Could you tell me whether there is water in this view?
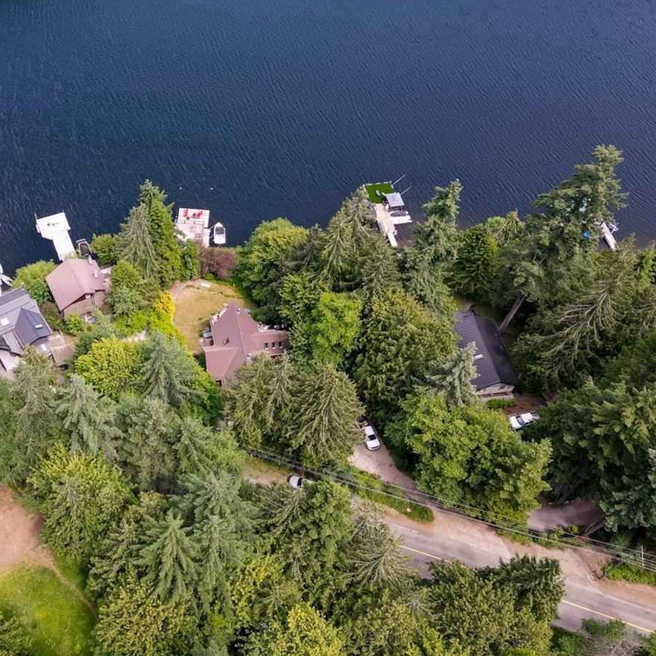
Yes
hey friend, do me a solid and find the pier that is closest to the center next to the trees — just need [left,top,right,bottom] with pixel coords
[364,177,410,246]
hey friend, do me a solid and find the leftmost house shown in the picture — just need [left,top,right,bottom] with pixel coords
[0,282,59,365]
